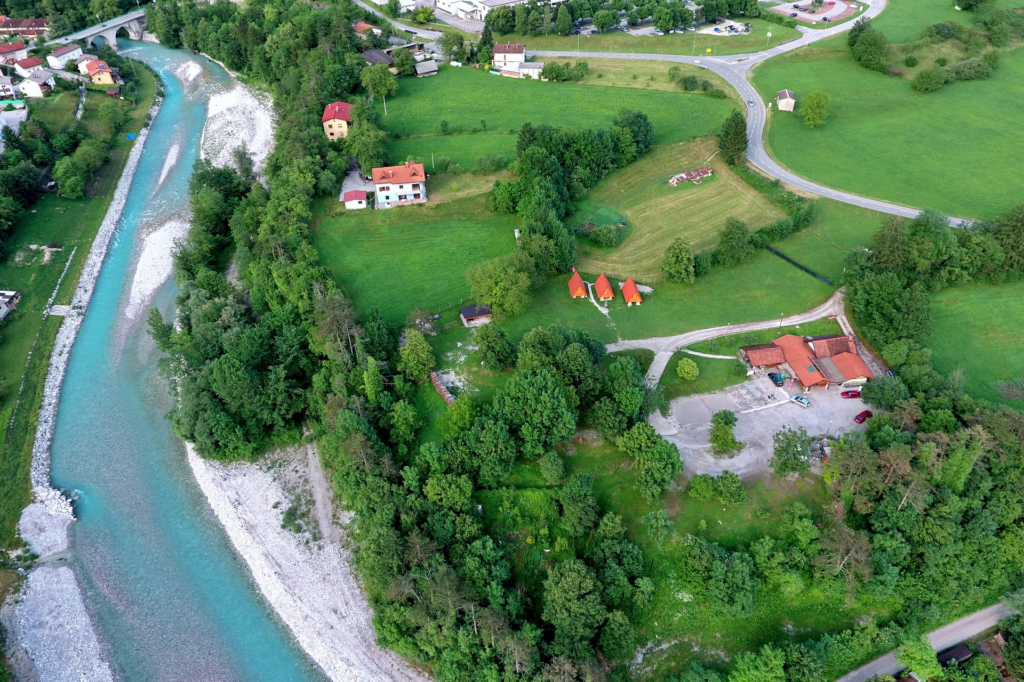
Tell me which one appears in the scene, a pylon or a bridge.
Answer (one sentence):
The one in the frame is a bridge.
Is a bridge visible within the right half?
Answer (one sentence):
No, I can find no bridge within the right half.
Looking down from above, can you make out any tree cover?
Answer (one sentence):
Yes, tree cover shows up in the scene.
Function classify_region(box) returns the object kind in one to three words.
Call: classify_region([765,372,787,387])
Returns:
car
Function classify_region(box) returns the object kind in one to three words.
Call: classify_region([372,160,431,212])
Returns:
house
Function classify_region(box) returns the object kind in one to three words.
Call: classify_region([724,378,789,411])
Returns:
sports court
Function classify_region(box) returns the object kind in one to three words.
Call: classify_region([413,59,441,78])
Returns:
barn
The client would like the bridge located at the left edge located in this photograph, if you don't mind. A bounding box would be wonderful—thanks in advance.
[22,9,155,52]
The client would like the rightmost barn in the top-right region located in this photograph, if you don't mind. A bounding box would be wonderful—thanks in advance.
[775,88,796,111]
